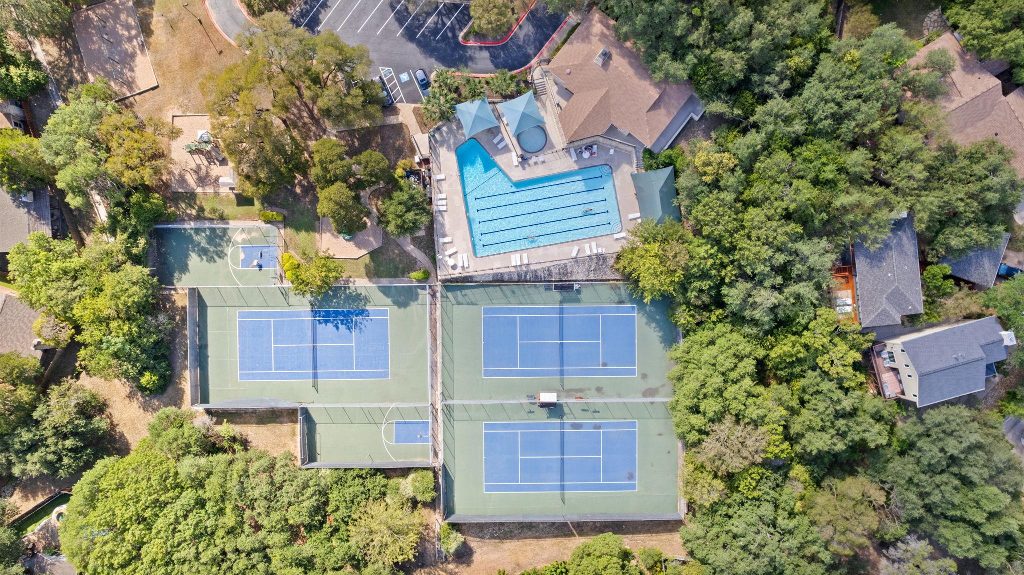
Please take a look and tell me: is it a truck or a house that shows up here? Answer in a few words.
house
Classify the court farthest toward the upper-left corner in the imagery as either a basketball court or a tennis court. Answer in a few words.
basketball court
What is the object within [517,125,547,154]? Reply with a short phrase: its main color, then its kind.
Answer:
blue swimming pool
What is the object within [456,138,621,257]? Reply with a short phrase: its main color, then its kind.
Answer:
blue swimming pool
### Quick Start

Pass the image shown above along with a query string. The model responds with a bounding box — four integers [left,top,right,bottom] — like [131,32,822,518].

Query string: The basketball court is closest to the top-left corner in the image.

[161,226,277,286]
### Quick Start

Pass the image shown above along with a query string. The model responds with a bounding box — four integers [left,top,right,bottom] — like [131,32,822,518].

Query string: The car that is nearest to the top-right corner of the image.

[996,262,1022,278]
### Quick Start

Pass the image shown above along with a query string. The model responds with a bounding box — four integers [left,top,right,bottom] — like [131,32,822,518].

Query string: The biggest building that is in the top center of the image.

[547,9,693,147]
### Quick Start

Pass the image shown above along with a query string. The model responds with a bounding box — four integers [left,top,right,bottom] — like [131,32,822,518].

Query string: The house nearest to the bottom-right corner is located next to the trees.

[878,315,1017,407]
